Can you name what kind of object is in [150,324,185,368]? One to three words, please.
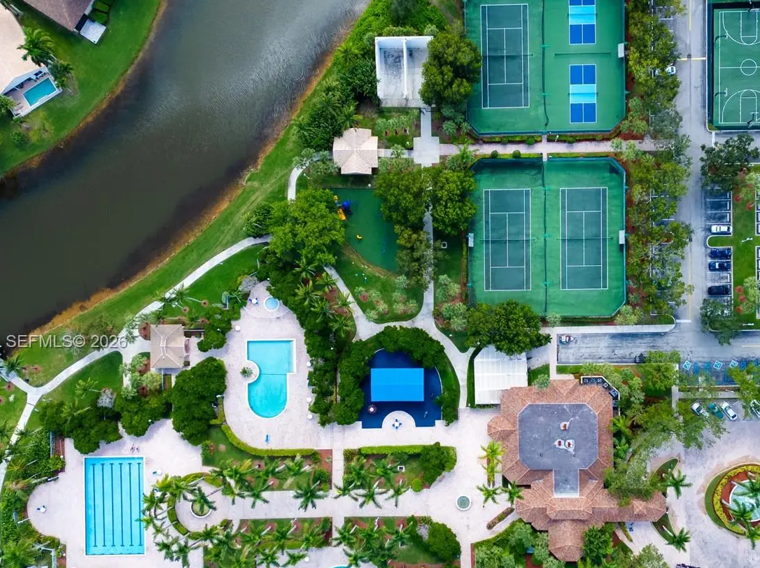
building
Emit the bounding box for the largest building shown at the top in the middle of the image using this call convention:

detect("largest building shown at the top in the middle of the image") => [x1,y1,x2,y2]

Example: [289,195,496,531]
[334,127,378,175]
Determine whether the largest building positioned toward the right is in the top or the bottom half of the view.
bottom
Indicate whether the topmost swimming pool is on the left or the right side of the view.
left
